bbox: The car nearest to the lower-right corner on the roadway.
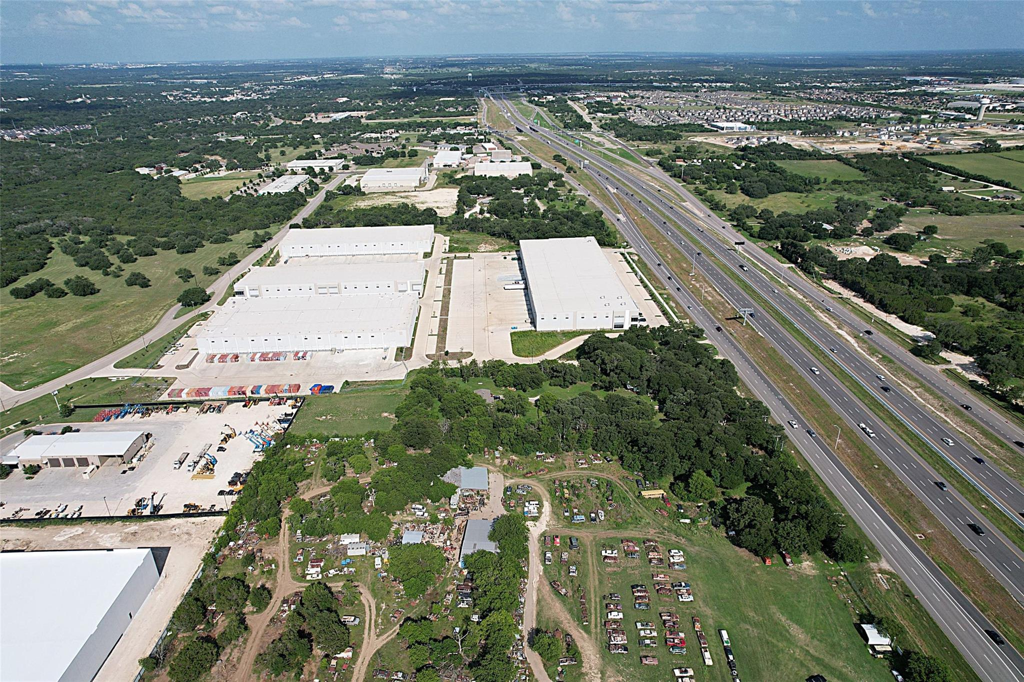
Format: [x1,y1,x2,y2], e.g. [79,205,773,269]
[987,628,1004,644]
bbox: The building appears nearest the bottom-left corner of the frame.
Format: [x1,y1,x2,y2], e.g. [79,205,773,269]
[0,548,158,682]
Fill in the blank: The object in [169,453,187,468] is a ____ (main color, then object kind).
white vehicle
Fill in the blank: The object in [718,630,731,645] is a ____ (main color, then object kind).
white vehicle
